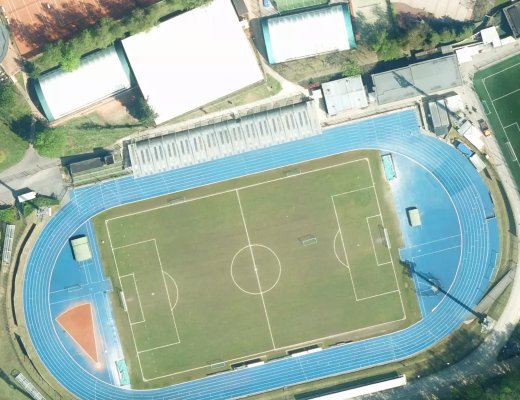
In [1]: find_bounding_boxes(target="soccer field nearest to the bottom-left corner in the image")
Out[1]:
[91,148,422,389]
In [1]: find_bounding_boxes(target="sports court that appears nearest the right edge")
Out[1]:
[390,0,474,21]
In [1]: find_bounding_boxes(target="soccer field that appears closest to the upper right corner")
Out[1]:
[473,54,520,191]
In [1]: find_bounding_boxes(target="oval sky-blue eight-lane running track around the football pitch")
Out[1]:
[20,103,499,400]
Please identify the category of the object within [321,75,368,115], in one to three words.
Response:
building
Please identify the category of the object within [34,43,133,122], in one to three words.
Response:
building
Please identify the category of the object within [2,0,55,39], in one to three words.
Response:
tennis court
